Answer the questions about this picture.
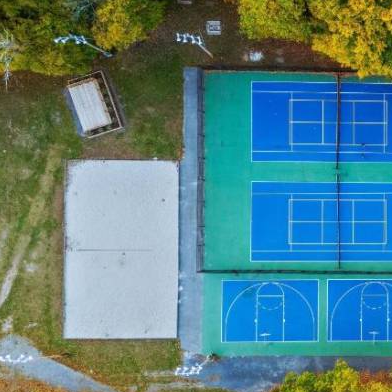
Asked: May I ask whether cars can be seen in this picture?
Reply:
No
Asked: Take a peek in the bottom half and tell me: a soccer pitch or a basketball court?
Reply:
basketball court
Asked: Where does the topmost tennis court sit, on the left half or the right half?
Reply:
right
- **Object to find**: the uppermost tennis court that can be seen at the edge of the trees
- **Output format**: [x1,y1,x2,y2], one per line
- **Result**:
[251,82,392,163]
